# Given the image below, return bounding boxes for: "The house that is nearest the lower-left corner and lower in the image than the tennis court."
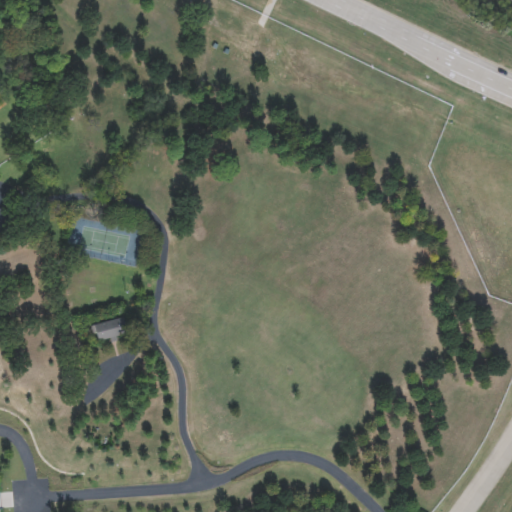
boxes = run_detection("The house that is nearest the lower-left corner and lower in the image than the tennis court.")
[92,320,124,341]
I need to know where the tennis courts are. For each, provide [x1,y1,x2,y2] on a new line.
[72,218,138,265]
